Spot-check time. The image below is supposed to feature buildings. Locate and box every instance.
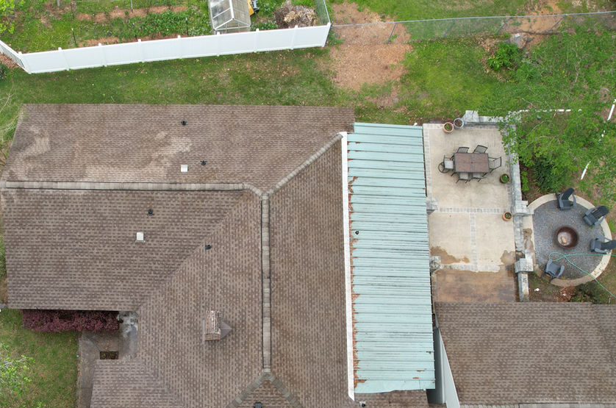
[213,0,253,34]
[0,102,434,408]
